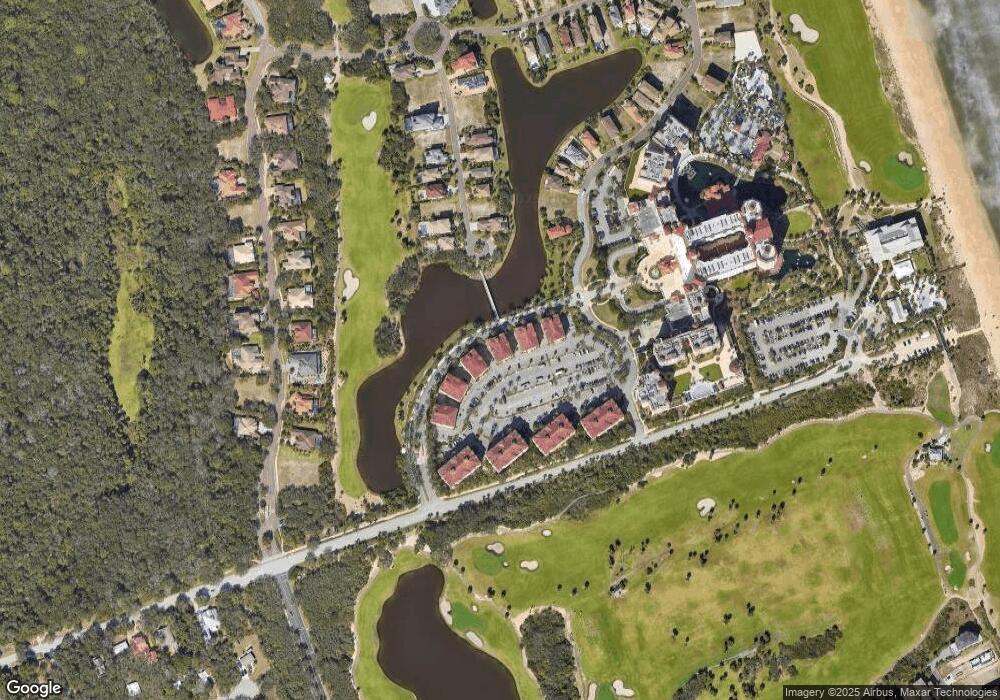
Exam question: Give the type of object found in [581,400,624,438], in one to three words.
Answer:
building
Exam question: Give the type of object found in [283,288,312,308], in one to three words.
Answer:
house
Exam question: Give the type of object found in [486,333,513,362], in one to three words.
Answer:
building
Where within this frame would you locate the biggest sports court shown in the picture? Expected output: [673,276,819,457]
[734,30,763,62]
